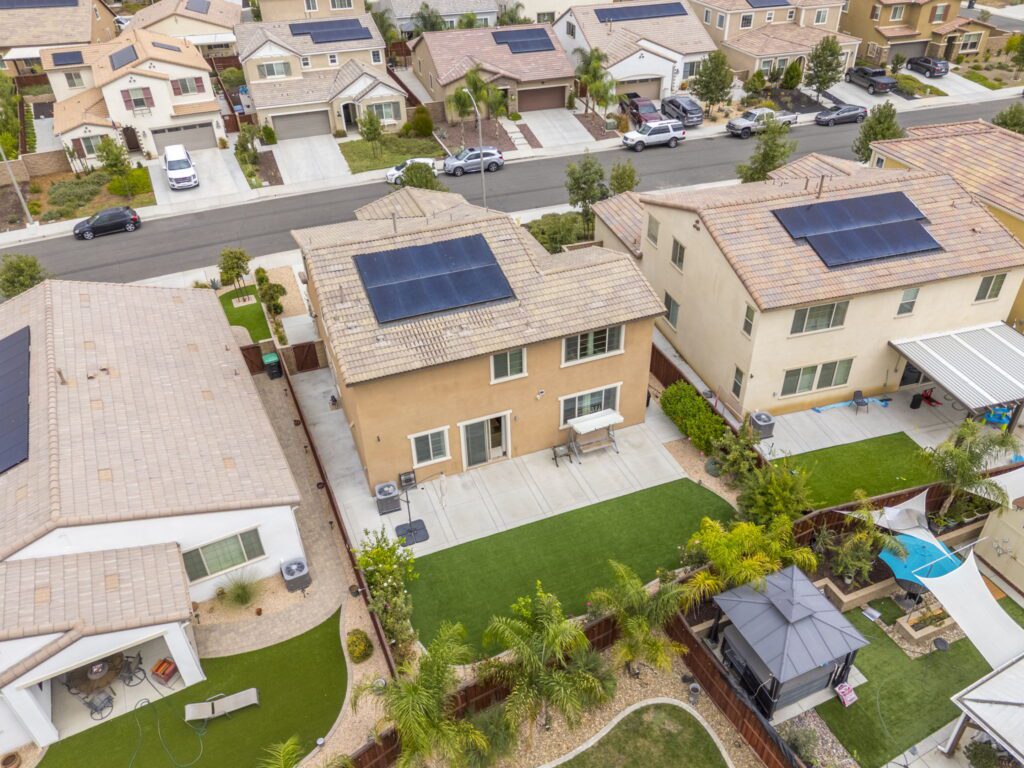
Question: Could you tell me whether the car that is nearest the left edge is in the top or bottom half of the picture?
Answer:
top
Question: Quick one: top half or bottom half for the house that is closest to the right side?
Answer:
bottom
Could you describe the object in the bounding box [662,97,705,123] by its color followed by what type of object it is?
gray car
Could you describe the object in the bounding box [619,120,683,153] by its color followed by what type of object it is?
white car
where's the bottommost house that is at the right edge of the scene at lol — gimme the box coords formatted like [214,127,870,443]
[980,493,1024,602]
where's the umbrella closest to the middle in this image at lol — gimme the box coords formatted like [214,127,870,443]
[390,474,448,550]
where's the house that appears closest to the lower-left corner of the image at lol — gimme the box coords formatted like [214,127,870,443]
[0,280,312,749]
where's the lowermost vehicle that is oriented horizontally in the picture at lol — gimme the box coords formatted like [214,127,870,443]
[77,206,143,240]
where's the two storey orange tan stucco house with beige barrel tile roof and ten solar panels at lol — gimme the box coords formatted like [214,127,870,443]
[289,188,671,496]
